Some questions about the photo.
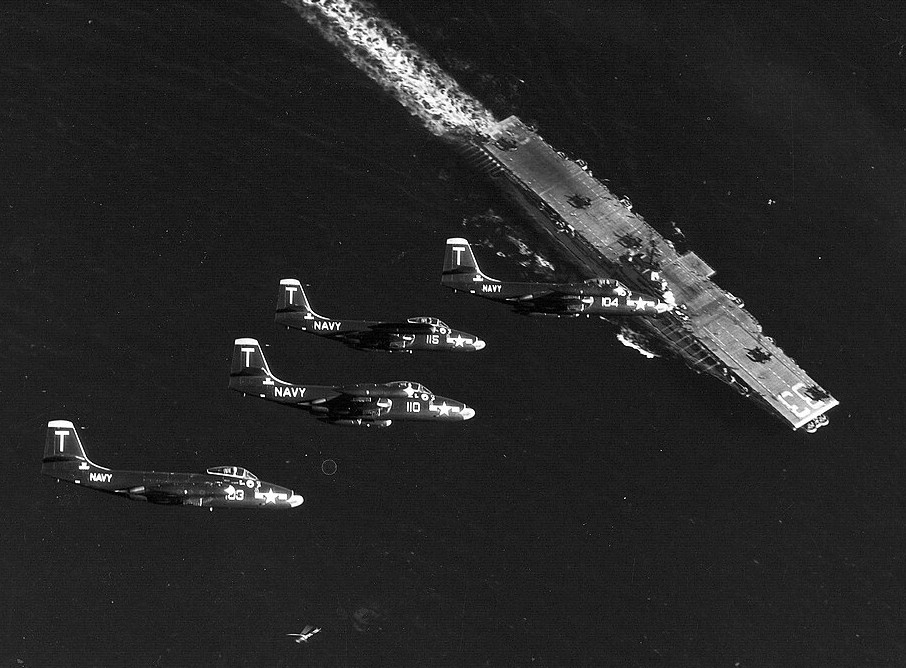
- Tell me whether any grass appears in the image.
No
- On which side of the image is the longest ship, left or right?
right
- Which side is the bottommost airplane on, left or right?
left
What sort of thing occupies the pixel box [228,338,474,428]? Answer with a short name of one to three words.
airplane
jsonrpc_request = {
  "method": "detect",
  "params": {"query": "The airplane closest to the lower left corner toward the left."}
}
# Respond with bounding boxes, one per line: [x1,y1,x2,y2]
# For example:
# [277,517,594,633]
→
[41,420,303,511]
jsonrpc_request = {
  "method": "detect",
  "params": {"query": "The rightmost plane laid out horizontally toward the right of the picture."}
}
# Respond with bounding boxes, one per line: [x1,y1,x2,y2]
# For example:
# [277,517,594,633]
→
[441,238,670,320]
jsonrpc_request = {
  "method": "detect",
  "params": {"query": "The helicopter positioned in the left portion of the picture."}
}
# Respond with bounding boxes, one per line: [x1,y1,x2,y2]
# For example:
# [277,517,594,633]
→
[291,621,319,645]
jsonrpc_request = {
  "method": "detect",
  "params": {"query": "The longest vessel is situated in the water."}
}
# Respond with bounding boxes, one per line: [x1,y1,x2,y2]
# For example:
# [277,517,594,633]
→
[463,116,840,433]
